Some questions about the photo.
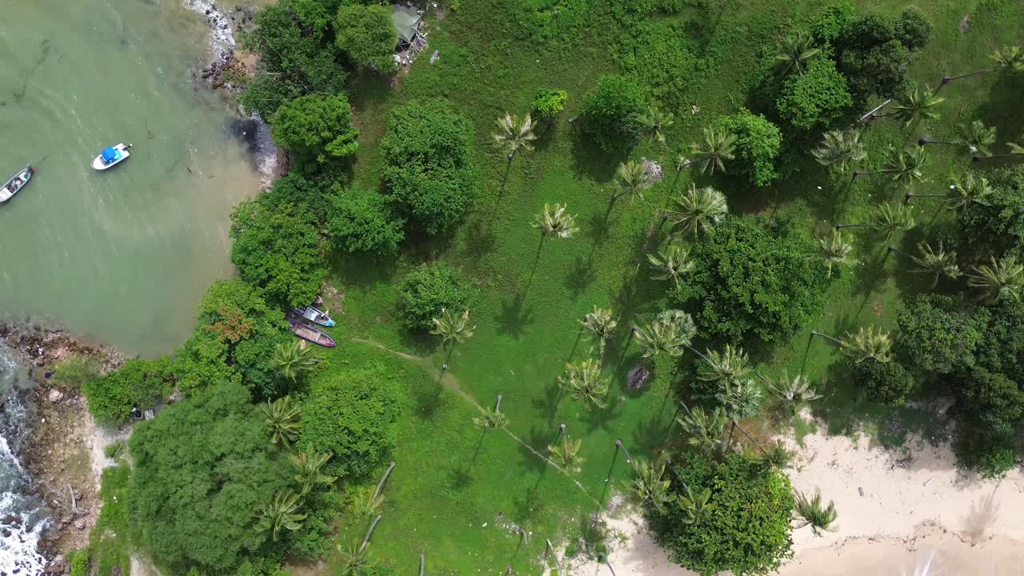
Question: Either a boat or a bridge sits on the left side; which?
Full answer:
The one visible on the left side is a boat.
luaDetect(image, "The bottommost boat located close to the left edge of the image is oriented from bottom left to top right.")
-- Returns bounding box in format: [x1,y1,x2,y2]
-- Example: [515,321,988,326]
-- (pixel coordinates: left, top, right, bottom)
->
[0,166,35,200]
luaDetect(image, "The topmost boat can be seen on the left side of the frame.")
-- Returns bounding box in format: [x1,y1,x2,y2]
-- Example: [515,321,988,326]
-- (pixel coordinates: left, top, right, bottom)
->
[91,142,133,168]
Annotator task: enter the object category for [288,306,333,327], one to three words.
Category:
boat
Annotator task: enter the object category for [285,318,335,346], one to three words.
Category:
boat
